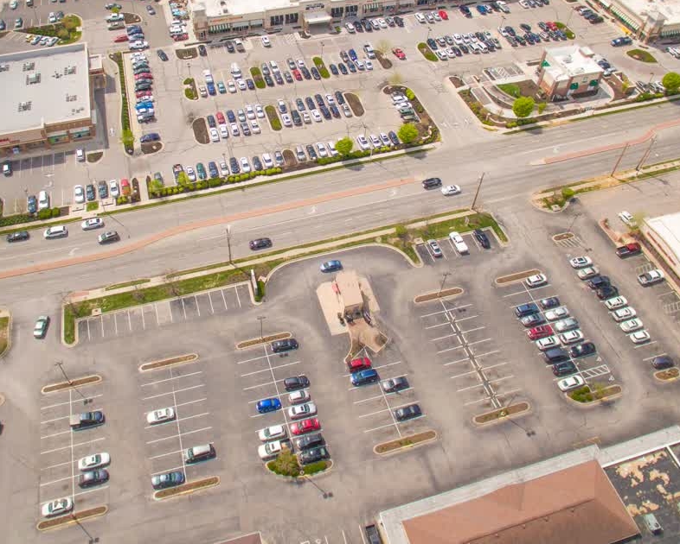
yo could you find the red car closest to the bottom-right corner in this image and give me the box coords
[529,325,553,338]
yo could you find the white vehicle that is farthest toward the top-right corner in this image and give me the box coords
[666,47,680,59]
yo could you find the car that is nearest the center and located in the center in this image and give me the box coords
[319,259,343,273]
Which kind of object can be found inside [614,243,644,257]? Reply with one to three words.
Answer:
vehicle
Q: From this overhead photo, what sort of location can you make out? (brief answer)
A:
parking lot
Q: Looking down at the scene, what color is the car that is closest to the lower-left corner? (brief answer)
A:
white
